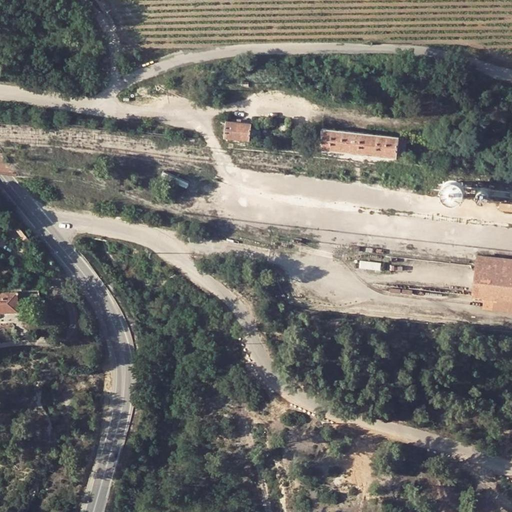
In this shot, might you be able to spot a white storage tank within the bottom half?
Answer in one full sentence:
No, no white storage tank is visible within the bottom half.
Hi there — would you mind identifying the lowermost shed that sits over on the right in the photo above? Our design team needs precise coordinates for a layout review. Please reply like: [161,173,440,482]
[472,252,512,310]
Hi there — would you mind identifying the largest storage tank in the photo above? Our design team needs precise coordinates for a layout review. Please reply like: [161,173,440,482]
[432,180,464,208]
